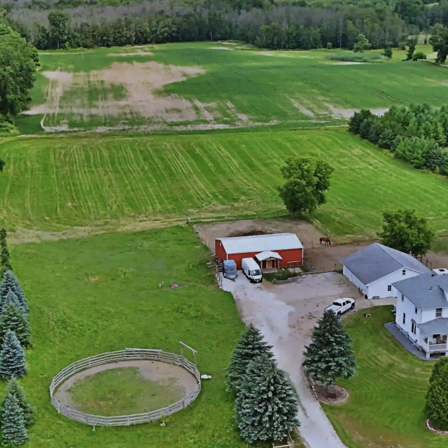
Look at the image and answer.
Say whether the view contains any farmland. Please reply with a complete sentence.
Yes, there is farmland in the image.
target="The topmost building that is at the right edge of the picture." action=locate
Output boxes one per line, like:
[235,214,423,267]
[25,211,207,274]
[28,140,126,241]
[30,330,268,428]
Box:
[338,242,432,299]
